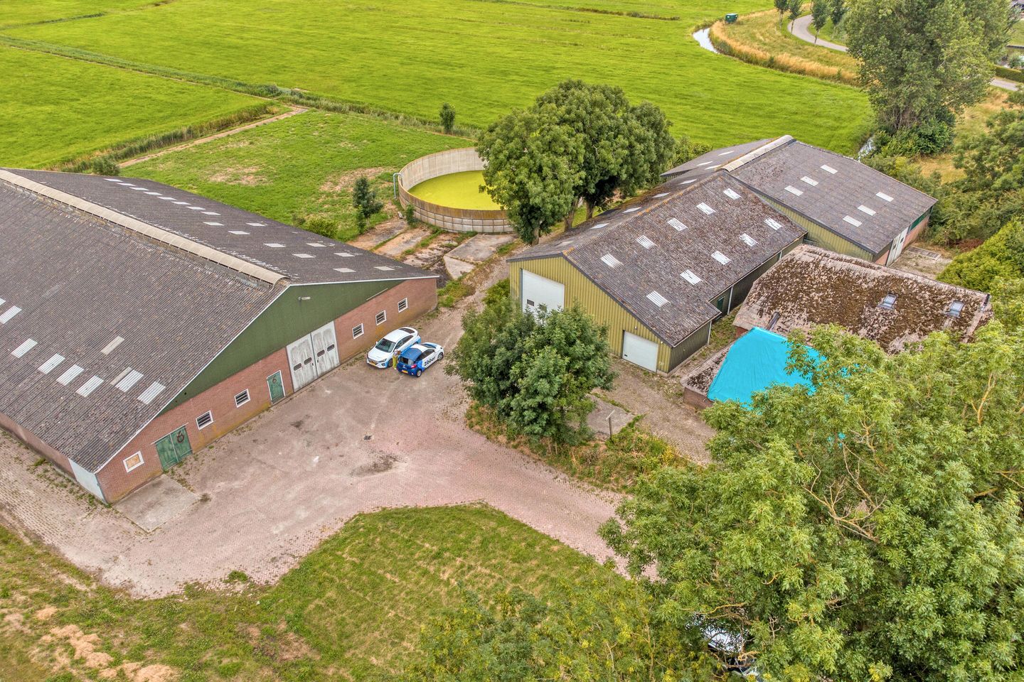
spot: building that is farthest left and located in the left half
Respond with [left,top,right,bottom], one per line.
[0,165,442,504]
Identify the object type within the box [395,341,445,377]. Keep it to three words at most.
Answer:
car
